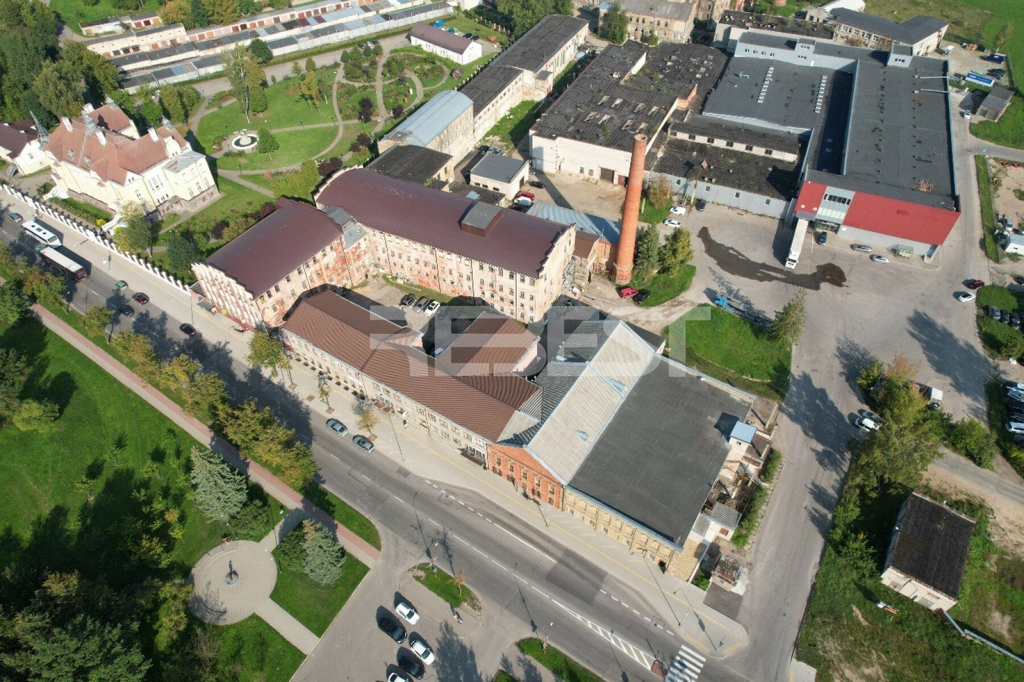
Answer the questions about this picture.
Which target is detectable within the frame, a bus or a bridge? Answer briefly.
bus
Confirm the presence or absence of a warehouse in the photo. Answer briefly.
Yes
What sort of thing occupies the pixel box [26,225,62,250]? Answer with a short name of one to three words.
vehicle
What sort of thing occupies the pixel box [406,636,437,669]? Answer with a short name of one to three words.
car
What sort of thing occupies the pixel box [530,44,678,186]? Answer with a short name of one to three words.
building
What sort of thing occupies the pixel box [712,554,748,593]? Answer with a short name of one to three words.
shed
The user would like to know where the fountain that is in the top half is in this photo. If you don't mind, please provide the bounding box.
[230,129,258,148]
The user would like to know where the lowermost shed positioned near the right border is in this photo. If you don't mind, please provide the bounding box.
[878,488,979,613]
